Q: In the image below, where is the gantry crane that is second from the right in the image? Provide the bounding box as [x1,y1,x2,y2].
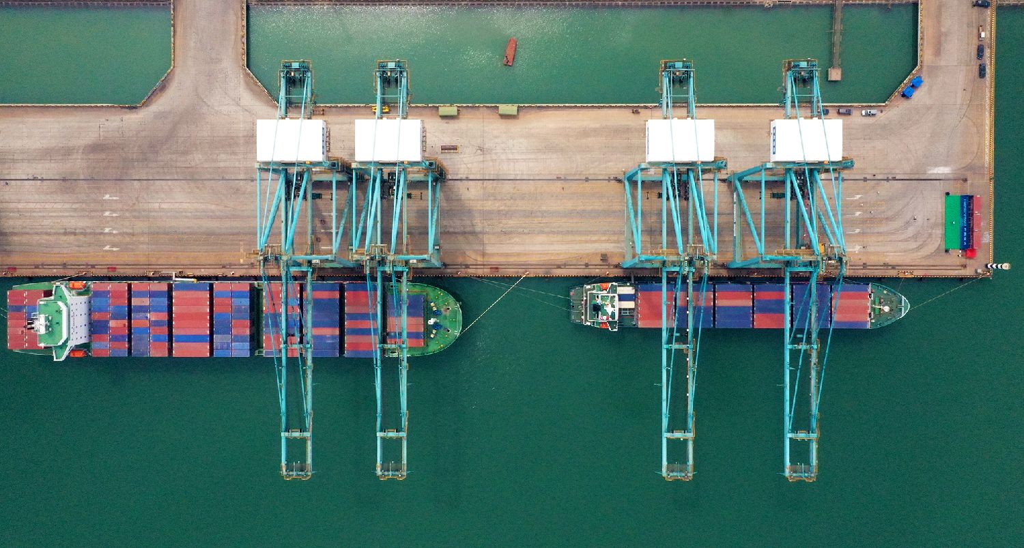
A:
[608,58,732,481]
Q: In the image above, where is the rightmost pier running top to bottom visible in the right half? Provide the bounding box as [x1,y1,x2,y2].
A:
[824,3,842,82]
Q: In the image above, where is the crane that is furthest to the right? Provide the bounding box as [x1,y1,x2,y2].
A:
[715,57,858,482]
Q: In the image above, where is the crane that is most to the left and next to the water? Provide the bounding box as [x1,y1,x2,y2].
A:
[249,59,368,480]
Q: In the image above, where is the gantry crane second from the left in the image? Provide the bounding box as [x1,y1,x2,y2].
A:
[347,58,458,480]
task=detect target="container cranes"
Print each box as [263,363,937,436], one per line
[249,59,368,480]
[608,58,732,481]
[347,58,458,480]
[715,57,858,482]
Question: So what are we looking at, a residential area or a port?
port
